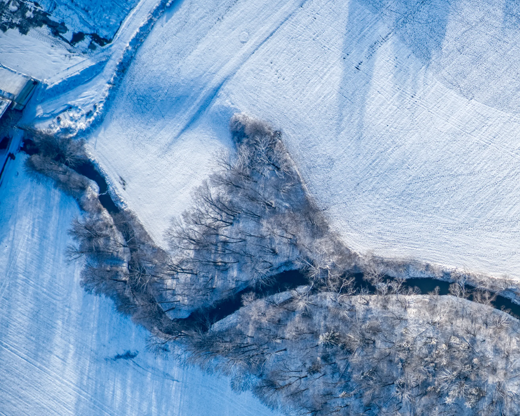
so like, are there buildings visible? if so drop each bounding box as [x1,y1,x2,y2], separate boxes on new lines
[0,66,35,100]
[0,96,18,120]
